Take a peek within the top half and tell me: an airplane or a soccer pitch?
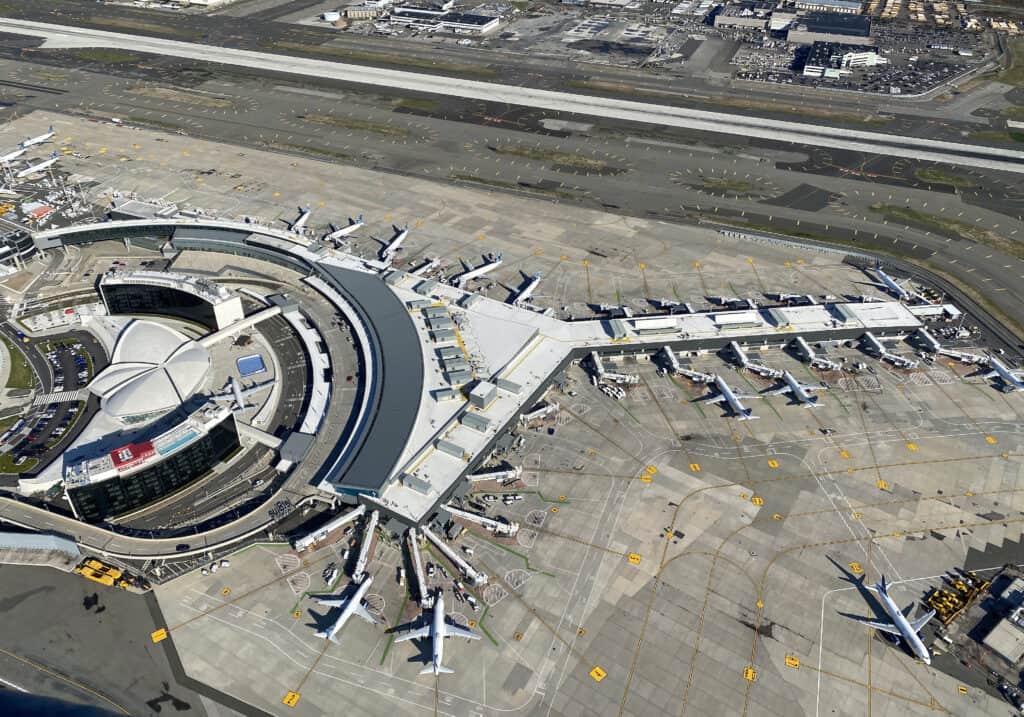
airplane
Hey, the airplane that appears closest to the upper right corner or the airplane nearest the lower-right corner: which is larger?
the airplane nearest the lower-right corner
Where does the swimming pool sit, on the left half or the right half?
left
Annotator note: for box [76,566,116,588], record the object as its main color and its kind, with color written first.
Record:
yellow vehicle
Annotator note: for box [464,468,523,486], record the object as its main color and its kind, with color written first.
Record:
white jet bridge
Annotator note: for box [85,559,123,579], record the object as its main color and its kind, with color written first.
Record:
yellow vehicle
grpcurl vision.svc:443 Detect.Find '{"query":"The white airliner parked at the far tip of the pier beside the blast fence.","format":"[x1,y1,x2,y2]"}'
[869,262,912,299]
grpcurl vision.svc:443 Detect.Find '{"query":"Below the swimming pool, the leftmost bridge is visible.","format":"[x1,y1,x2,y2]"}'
[0,486,300,565]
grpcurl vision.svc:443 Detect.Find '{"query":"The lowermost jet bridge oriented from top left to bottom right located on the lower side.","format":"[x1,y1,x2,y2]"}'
[421,524,489,588]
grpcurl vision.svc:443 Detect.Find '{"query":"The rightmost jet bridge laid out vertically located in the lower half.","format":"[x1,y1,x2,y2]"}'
[409,527,433,612]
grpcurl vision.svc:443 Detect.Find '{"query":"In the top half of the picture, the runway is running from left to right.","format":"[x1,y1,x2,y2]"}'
[0,18,1024,173]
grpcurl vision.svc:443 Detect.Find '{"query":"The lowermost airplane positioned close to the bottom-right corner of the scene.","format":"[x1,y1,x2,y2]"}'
[859,576,939,665]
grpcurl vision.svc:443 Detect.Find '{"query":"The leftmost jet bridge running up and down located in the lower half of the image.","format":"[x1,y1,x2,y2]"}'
[353,509,379,587]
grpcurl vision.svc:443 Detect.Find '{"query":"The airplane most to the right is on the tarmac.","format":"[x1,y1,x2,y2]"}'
[983,359,1024,391]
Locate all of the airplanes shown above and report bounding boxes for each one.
[773,371,830,407]
[869,262,912,299]
[206,377,266,412]
[460,252,507,282]
[316,579,381,645]
[0,185,17,199]
[396,593,480,676]
[983,359,1024,391]
[326,217,368,241]
[286,206,318,228]
[22,126,59,148]
[0,143,30,163]
[704,375,763,419]
[18,151,61,177]
[505,268,554,305]
[375,223,420,258]
[859,576,939,665]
